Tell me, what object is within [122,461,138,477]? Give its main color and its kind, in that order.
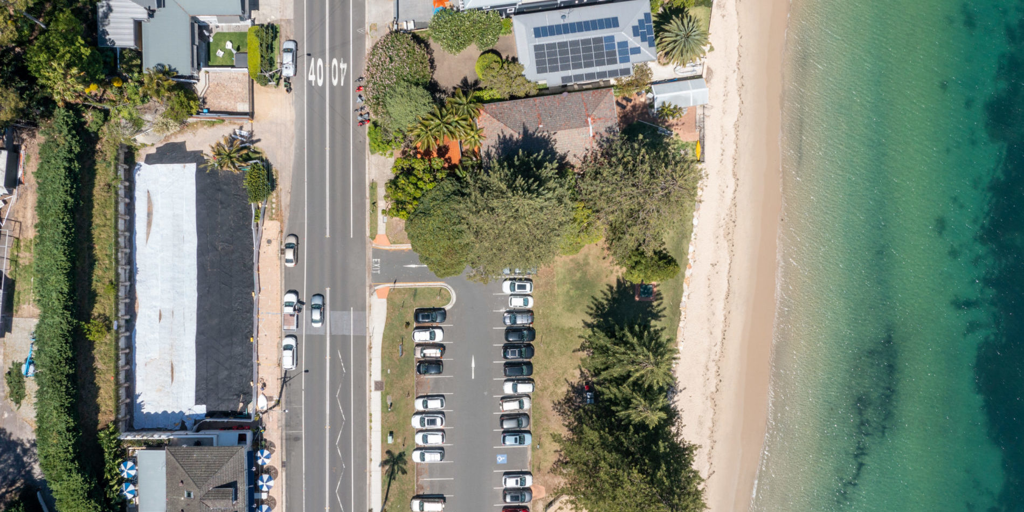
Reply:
white umbrella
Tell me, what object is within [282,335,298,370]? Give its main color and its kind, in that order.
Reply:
white car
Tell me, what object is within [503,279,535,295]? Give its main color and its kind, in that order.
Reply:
white car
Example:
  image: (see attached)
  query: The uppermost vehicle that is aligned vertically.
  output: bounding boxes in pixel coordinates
[280,40,297,77]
